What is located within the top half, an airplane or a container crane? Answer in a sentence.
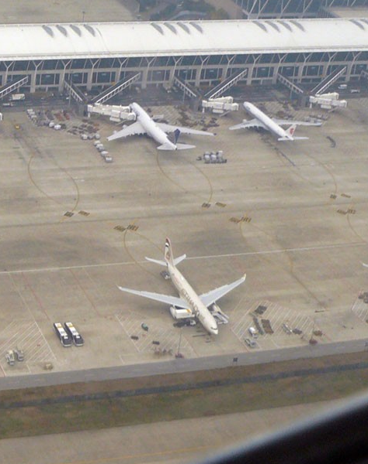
There is an airplane within the top half.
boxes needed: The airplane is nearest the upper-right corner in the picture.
[227,103,326,142]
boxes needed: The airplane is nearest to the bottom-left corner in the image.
[110,234,246,332]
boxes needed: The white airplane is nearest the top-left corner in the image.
[102,102,216,149]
